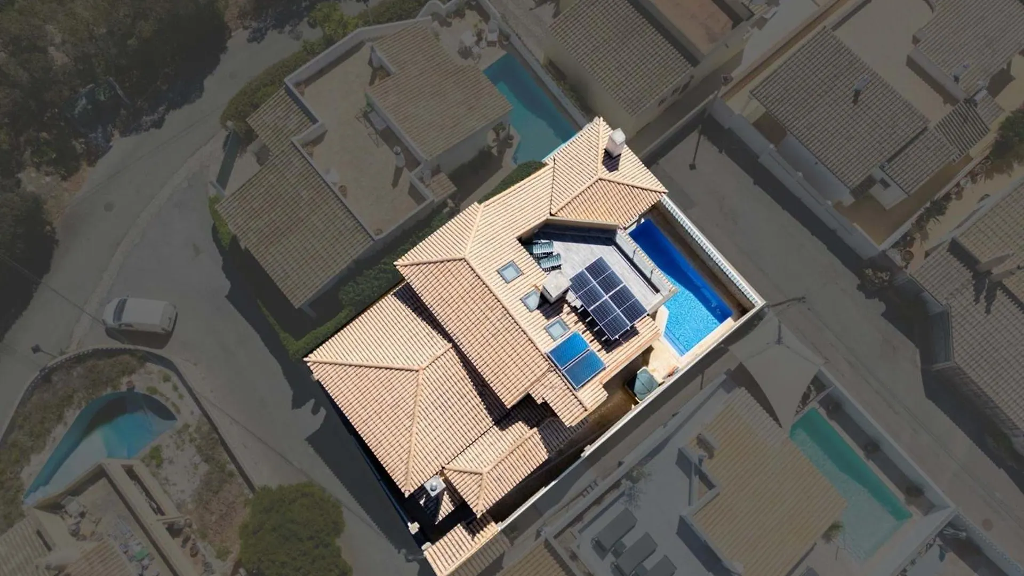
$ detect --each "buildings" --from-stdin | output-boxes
[502,367,848,576]
[889,174,1024,442]
[0,457,233,576]
[747,0,1024,222]
[215,19,512,310]
[549,0,794,140]
[303,116,675,576]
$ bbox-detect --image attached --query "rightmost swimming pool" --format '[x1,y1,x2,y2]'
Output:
[783,402,919,576]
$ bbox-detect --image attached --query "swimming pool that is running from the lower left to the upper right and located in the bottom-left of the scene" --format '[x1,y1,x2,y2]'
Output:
[24,392,176,505]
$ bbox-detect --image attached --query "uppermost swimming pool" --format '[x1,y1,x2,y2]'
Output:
[482,52,575,164]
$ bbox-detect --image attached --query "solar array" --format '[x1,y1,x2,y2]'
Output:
[569,258,647,339]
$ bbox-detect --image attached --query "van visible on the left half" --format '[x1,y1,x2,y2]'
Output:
[103,298,179,338]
